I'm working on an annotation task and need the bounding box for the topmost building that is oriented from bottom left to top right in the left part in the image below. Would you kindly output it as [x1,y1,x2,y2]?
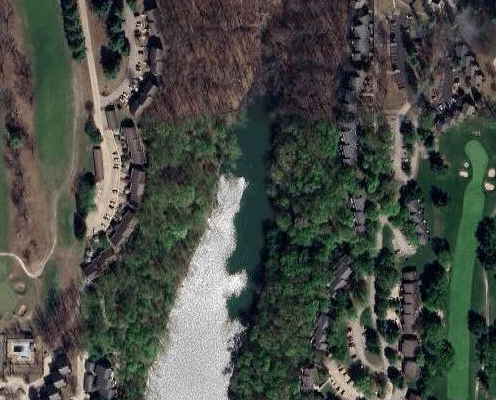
[128,82,160,121]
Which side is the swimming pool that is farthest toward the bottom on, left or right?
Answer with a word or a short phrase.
left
